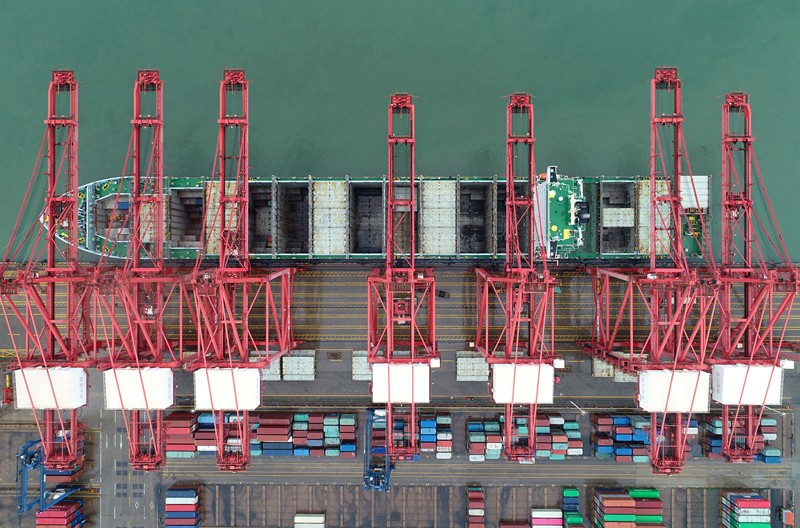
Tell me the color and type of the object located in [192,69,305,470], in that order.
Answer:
red container crane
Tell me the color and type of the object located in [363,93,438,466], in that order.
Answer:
red container crane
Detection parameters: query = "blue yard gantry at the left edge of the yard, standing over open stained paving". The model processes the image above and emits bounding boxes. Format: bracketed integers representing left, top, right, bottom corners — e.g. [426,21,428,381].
[15,437,84,514]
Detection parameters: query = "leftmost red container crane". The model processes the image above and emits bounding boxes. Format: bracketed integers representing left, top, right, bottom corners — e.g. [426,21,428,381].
[0,69,152,470]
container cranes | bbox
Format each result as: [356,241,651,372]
[0,69,152,470]
[92,69,220,470]
[577,67,725,470]
[462,93,558,466]
[648,93,800,466]
[192,69,305,470]
[363,93,438,466]
[15,437,84,514]
[362,408,395,492]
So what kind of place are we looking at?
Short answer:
port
